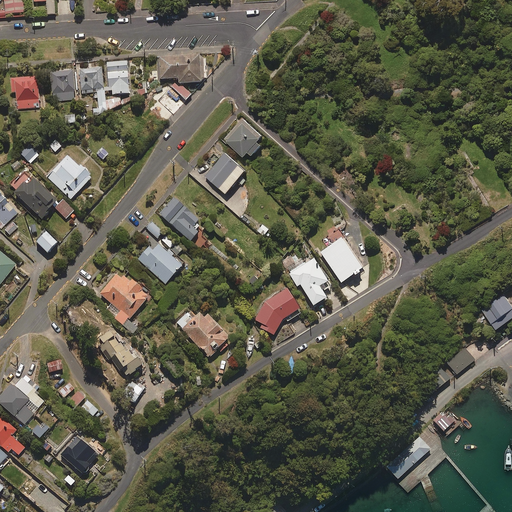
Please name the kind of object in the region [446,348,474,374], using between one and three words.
building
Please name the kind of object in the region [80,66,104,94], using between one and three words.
house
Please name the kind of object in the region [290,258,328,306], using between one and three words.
house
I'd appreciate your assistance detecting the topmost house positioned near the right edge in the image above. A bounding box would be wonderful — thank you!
[483,296,512,330]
